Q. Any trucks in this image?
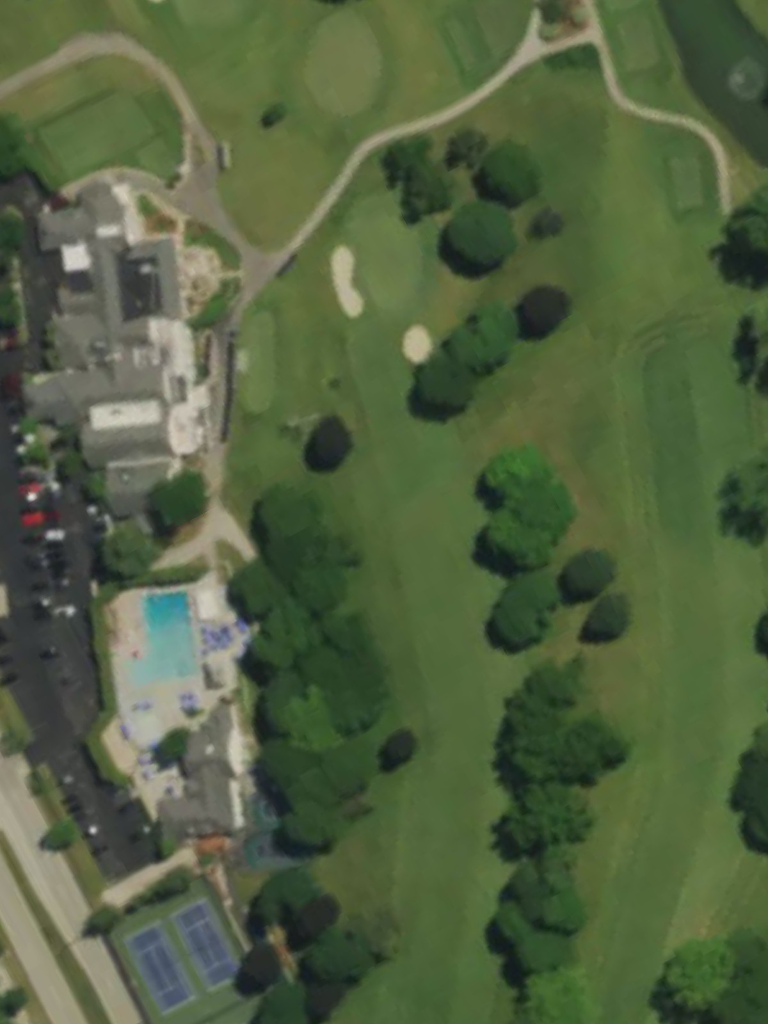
No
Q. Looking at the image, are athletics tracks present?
No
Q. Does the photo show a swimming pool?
Yes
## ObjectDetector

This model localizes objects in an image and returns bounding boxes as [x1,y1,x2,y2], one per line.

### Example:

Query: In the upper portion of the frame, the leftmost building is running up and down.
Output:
[24,181,188,517]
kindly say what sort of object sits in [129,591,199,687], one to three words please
swimming pool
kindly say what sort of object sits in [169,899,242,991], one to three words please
tennis court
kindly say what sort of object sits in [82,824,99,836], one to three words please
vehicle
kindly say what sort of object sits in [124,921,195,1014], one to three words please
tennis court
